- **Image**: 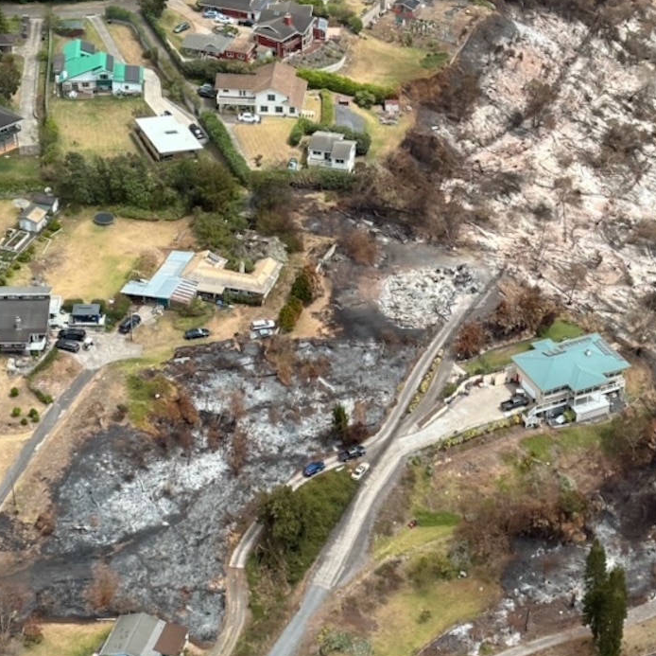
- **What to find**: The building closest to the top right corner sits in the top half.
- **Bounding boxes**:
[395,0,424,20]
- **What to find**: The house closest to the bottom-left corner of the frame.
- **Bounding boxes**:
[100,611,197,656]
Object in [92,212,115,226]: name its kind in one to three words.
trampoline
